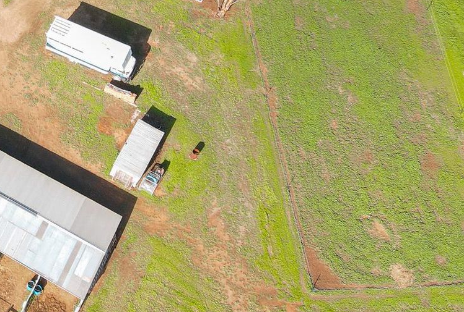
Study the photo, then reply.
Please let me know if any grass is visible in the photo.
Yes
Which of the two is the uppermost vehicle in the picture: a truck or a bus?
truck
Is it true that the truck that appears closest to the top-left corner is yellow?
No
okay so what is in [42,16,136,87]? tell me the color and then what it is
white truck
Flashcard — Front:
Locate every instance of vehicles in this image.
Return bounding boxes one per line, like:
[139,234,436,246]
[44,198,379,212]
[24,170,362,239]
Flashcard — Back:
[141,147,171,197]
[42,16,136,87]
